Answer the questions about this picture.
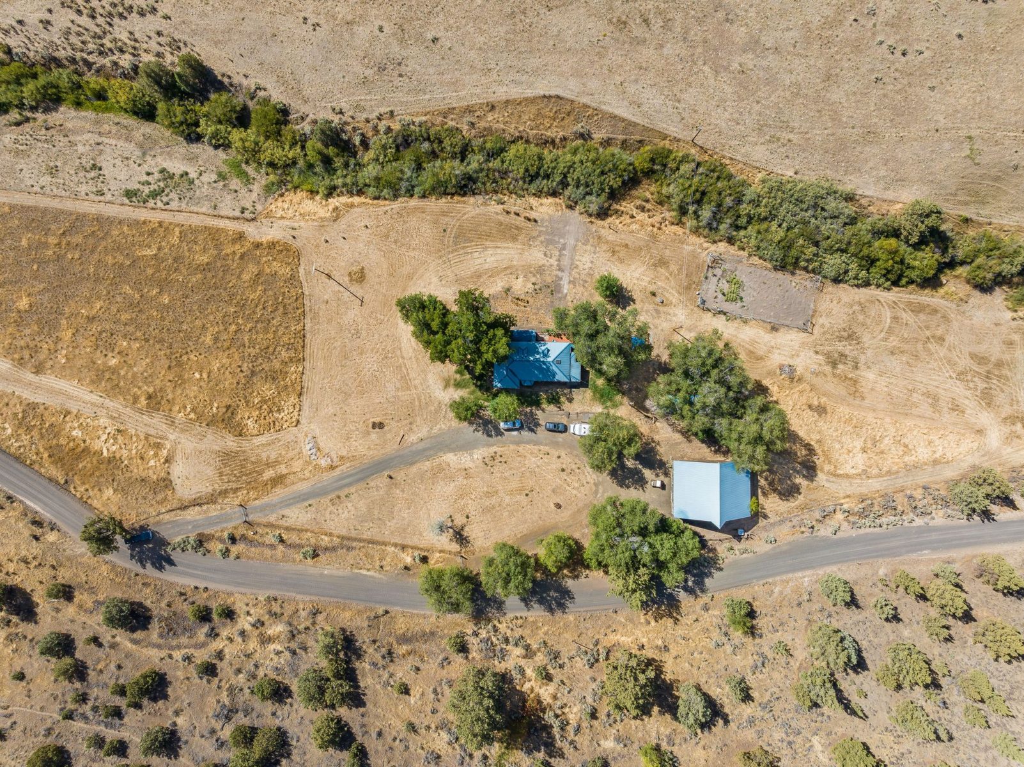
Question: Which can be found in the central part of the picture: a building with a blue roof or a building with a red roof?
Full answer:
It is a building with a blue roof that can be seen in the central part of the picture.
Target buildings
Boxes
[493,330,581,389]
[671,460,751,530]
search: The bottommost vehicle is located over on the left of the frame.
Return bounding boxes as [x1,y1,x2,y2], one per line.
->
[126,531,152,545]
